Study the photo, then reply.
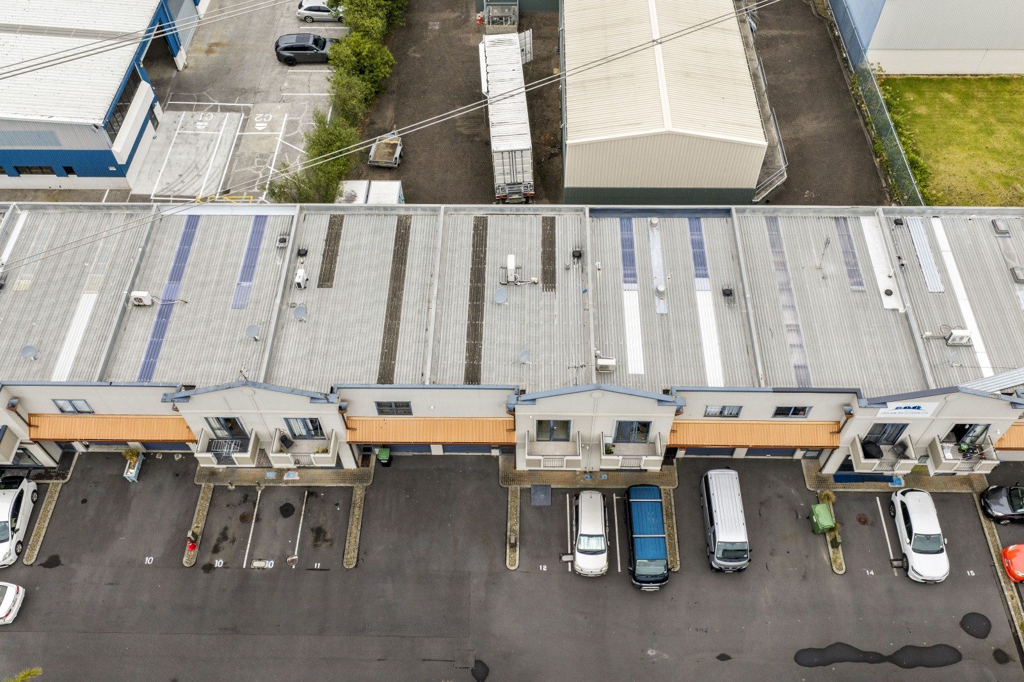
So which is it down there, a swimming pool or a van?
van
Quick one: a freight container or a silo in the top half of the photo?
freight container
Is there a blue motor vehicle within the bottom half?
Yes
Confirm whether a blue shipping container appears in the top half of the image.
No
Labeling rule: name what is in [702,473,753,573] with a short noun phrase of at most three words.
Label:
van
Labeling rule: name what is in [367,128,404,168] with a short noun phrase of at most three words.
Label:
trailer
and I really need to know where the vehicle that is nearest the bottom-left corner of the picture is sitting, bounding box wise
[0,586,27,627]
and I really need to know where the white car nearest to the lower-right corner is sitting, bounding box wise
[888,495,948,582]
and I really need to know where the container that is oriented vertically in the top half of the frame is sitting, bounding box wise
[478,29,533,184]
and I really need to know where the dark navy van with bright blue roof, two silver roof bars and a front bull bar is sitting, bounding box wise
[625,486,671,588]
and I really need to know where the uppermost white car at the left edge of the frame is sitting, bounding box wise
[0,483,37,567]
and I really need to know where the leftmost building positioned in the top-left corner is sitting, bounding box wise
[0,0,196,189]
